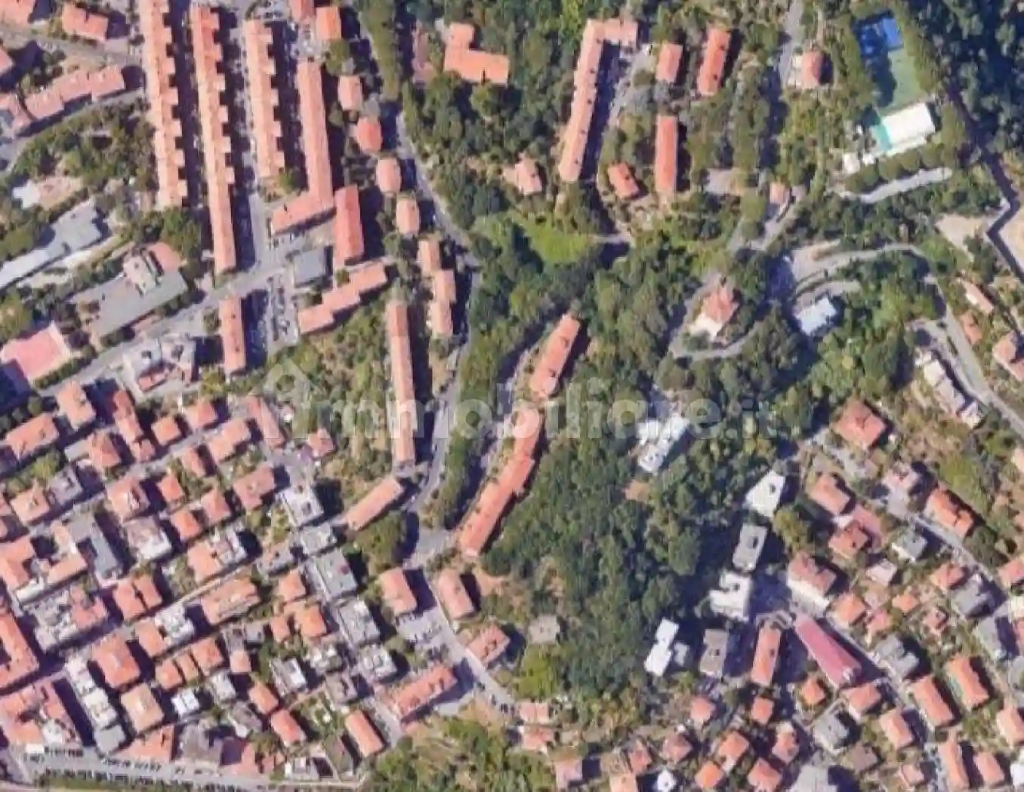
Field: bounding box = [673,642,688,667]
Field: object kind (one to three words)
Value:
shed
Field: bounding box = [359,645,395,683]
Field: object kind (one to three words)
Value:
building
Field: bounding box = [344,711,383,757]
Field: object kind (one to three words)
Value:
house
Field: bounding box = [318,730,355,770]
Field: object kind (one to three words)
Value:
house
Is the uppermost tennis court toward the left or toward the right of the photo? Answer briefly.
right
